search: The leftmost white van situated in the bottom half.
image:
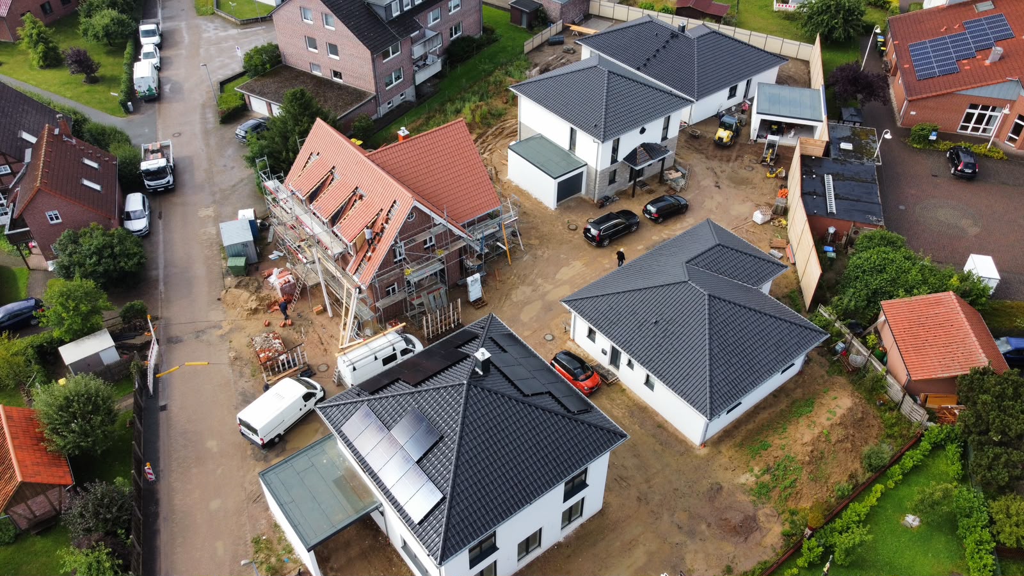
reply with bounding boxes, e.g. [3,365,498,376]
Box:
[224,374,333,453]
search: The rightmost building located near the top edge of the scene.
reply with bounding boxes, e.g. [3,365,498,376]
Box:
[882,0,1024,155]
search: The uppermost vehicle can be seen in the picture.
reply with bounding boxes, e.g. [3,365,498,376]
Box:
[139,15,162,44]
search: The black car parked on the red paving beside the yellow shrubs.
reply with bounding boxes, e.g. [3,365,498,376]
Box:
[944,142,983,174]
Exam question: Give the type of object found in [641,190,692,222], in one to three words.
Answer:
car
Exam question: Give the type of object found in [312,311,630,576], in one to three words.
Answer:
house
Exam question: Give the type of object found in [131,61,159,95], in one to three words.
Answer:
van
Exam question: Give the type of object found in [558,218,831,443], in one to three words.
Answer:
house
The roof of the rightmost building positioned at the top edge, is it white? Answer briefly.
No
